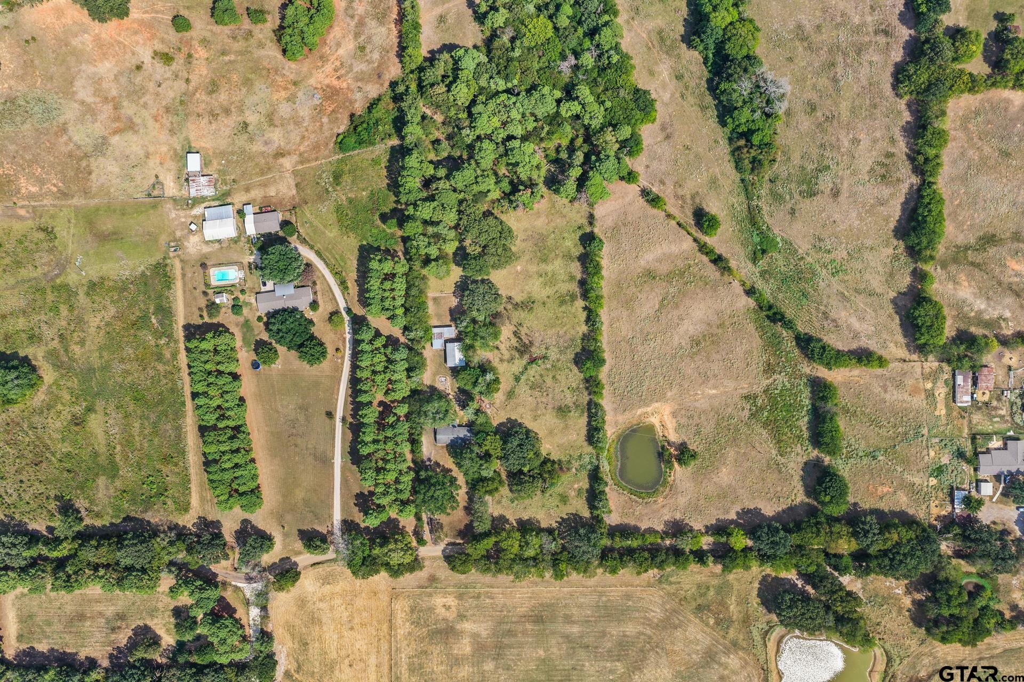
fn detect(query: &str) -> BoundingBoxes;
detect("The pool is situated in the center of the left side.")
[209,265,240,286]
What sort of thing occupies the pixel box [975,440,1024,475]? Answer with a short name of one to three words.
house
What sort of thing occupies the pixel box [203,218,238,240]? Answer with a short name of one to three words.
building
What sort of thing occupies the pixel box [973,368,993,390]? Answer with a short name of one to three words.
barn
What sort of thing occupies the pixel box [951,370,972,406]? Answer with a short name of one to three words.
shed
